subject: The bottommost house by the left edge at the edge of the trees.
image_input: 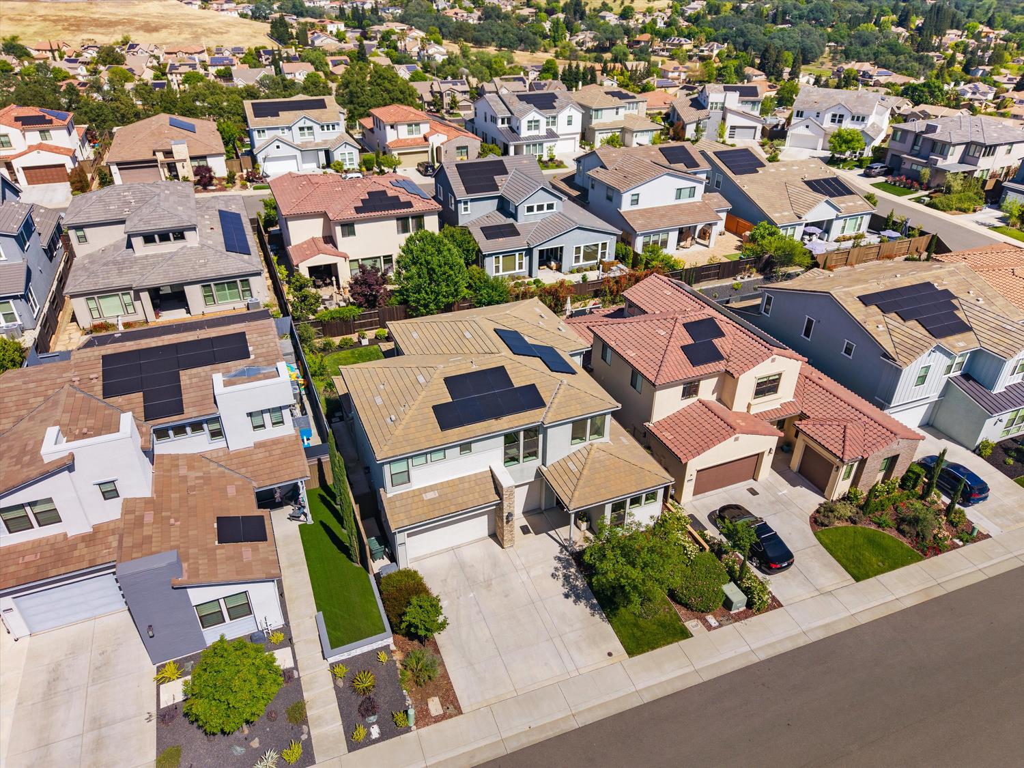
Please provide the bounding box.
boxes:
[0,301,315,664]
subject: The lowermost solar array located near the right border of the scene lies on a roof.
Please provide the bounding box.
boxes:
[858,281,975,338]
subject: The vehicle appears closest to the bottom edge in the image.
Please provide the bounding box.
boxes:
[721,502,800,561]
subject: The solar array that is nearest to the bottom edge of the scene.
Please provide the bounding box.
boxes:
[216,513,268,543]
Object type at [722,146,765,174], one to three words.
solar array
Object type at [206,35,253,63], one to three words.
house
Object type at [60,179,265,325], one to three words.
house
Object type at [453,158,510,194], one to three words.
solar array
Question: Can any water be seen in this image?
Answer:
No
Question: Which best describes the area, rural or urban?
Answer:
urban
